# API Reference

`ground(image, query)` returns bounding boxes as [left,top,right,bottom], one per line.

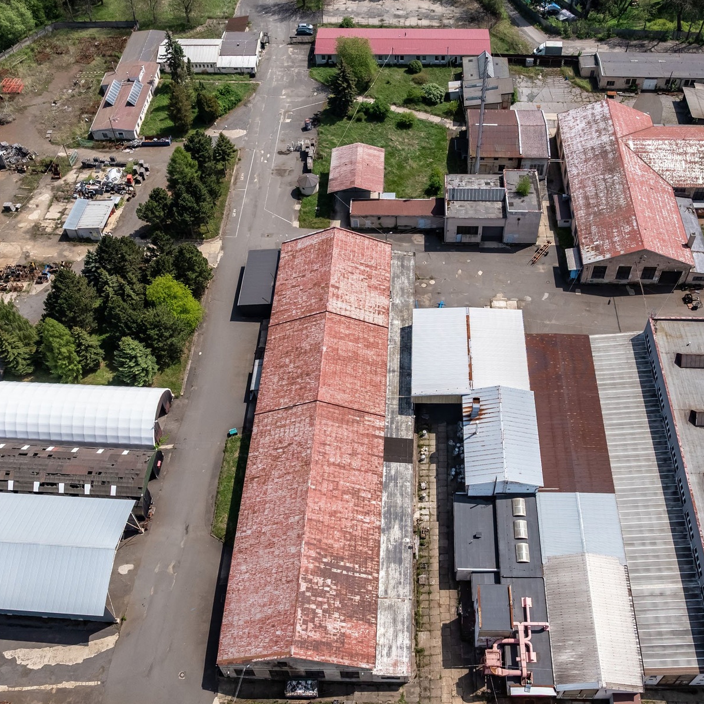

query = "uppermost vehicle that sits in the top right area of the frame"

[533,42,565,57]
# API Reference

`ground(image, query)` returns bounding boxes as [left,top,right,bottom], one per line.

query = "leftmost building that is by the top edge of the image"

[92,32,171,146]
